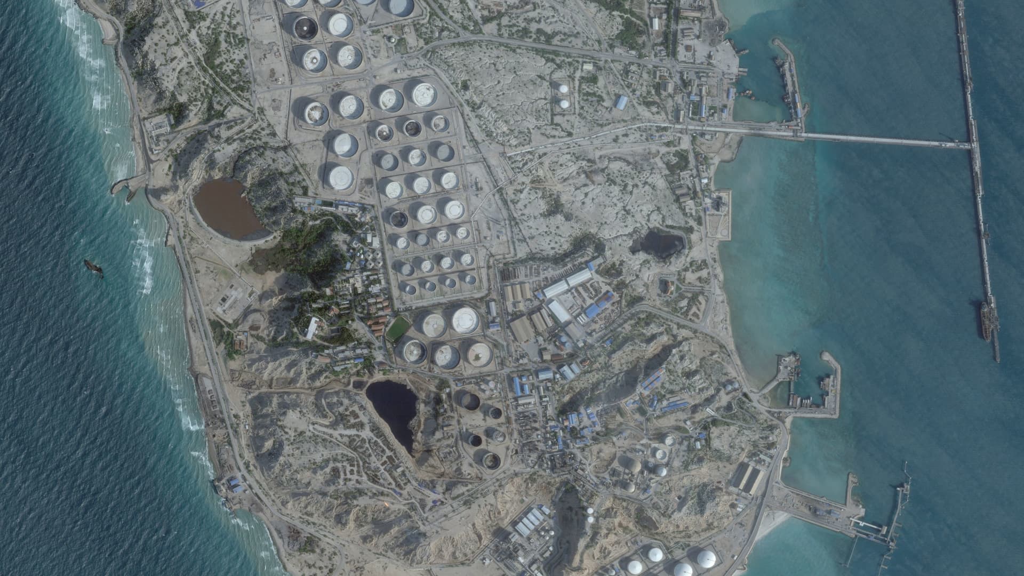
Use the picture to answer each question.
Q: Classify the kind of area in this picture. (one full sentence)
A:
The picture captures a port.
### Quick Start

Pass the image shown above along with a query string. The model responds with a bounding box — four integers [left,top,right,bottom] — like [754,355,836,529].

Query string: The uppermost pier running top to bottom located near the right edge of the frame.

[956,0,1001,362]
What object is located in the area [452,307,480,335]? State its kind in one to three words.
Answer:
storage tank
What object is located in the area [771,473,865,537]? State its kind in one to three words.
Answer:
pier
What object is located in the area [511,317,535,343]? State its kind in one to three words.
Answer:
building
